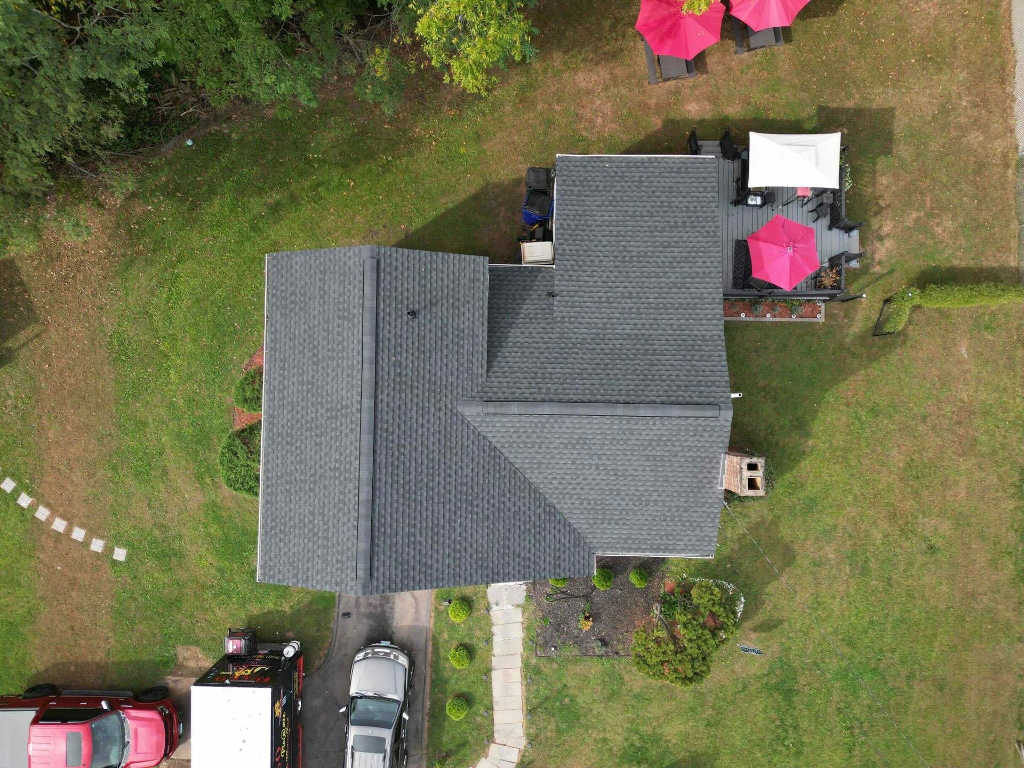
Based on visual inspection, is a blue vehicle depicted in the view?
No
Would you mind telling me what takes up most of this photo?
grass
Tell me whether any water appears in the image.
No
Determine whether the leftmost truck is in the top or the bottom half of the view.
bottom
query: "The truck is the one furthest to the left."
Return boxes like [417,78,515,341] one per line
[0,690,188,768]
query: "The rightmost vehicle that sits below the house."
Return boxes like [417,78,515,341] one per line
[339,641,414,768]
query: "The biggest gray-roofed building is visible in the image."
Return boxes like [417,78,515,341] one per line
[257,154,766,597]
